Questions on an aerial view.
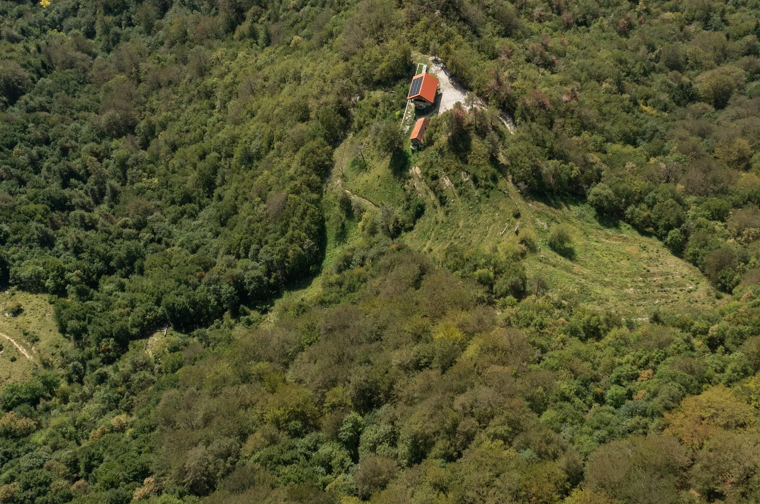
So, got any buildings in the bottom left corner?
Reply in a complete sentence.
No, looking in the bottom left corner, there is no building.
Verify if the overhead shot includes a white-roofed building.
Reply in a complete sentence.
No, the photo shows no white-roofed building.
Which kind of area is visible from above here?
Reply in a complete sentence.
What you see here is a forest.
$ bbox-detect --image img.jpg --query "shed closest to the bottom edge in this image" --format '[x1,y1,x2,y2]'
[410,117,429,147]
